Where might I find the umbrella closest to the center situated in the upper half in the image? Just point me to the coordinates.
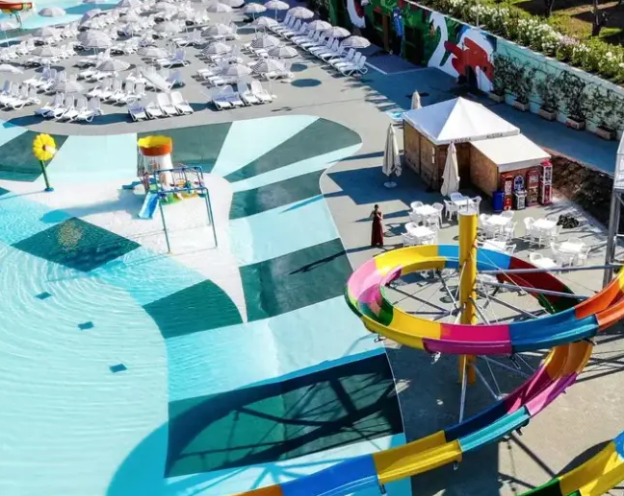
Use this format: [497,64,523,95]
[381,126,399,188]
